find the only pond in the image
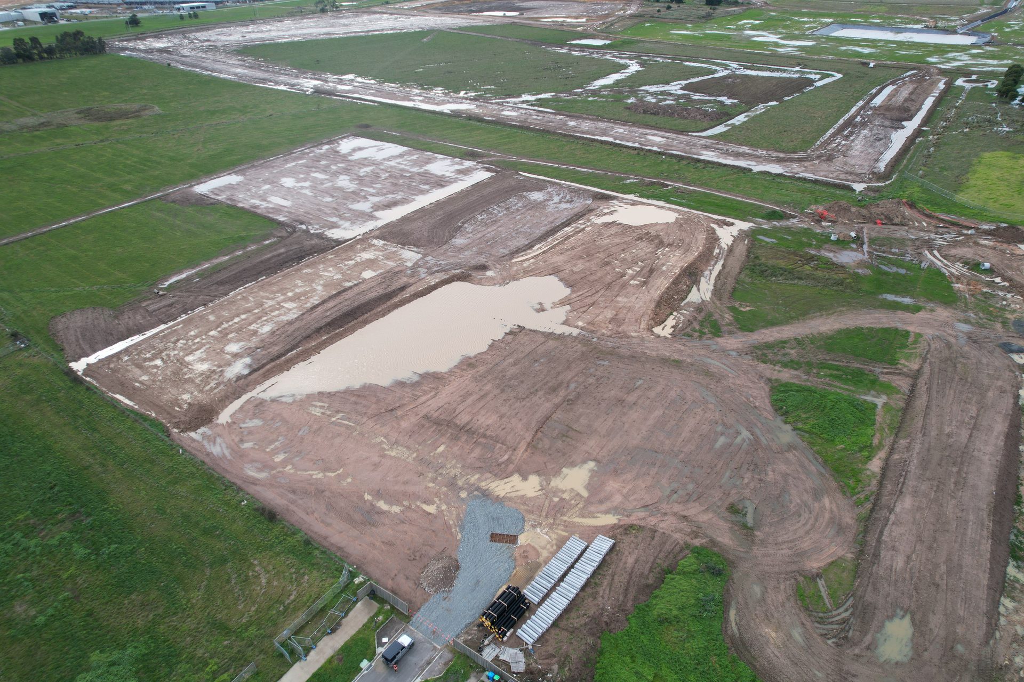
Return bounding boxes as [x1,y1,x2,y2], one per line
[218,273,582,425]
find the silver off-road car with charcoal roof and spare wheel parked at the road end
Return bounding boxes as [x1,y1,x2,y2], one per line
[379,631,418,667]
